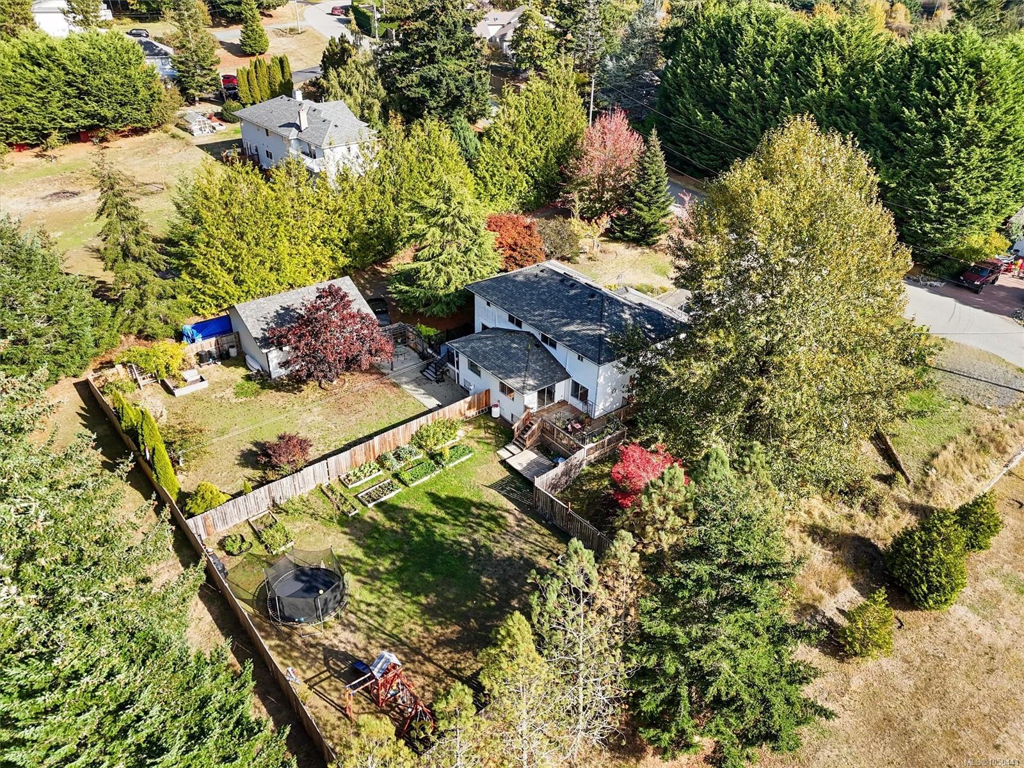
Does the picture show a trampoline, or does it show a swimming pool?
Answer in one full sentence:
The image shows a trampoline.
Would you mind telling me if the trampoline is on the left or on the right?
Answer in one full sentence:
It is on the left.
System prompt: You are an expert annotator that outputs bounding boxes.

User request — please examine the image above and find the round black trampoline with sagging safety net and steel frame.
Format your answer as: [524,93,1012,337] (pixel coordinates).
[259,530,352,633]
